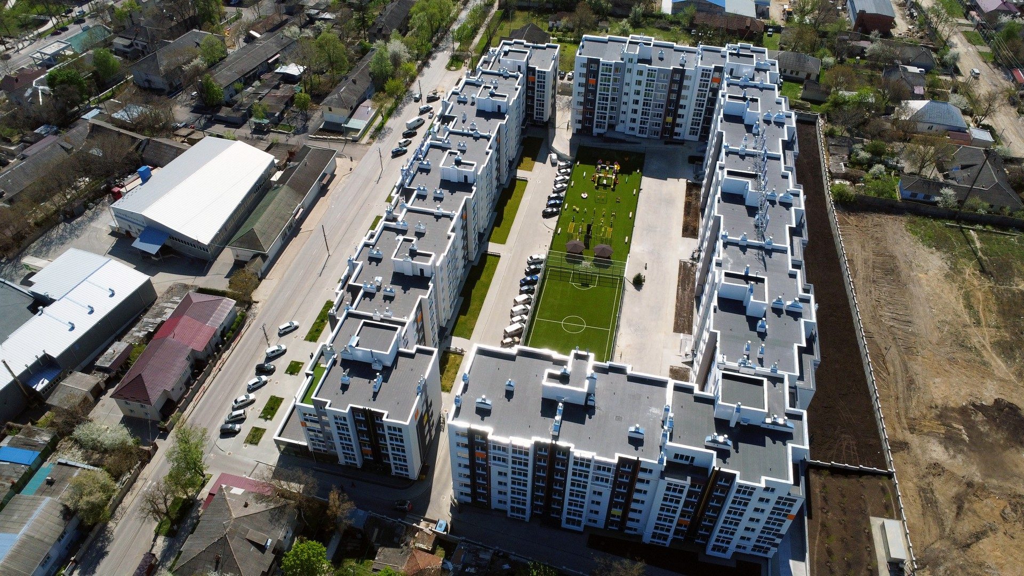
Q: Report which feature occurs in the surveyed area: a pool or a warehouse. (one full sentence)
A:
I can see a warehouse in this picture.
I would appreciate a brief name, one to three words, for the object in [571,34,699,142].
building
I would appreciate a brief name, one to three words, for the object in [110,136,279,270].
warehouse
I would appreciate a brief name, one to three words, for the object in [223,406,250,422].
car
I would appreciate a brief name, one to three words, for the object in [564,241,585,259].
gazebo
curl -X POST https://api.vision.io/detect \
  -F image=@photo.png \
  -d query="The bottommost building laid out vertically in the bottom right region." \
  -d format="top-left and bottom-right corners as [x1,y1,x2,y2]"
[874,519,906,569]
